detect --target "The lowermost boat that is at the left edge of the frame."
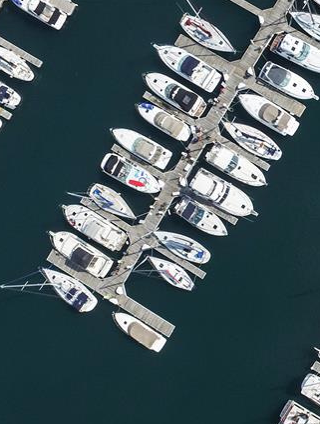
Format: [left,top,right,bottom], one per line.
[0,267,98,317]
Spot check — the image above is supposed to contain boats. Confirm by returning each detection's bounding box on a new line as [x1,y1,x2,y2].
[170,195,231,238]
[141,72,214,124]
[61,204,133,260]
[300,376,320,406]
[101,154,168,198]
[251,55,318,101]
[0,267,98,317]
[79,183,152,231]
[135,242,197,293]
[198,143,270,187]
[215,108,283,161]
[234,84,300,137]
[0,52,39,85]
[280,0,320,41]
[154,45,231,102]
[109,128,185,176]
[137,223,212,265]
[283,404,320,424]
[133,100,194,150]
[0,82,22,107]
[9,0,66,30]
[185,167,258,216]
[107,296,168,352]
[48,231,118,284]
[268,26,320,73]
[180,0,250,65]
